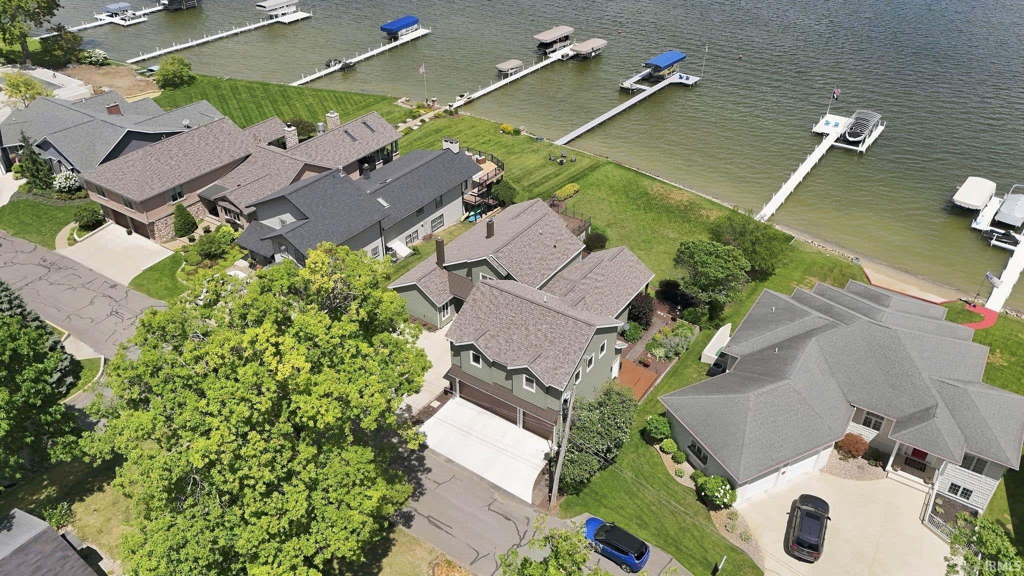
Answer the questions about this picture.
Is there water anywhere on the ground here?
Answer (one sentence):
Yes, there is water in the image.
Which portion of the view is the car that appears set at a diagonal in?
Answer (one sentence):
The car that appears set at a diagonal sits in the bottom section of the image.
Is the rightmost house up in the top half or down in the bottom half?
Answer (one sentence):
The rightmost house is in the bottom half of the image.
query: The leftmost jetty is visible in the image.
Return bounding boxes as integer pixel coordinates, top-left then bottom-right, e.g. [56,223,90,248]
[79,7,162,28]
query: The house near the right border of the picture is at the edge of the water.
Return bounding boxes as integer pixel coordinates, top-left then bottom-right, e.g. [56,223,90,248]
[657,279,1024,505]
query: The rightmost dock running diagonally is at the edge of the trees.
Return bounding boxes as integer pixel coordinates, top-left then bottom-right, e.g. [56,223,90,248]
[755,110,887,222]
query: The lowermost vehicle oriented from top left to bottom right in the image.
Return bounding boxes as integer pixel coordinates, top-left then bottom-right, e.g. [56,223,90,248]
[582,521,656,576]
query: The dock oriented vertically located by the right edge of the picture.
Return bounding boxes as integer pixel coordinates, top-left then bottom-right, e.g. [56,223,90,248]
[969,192,1024,314]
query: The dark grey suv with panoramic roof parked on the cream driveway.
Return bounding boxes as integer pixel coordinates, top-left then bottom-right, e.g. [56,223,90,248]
[784,494,827,561]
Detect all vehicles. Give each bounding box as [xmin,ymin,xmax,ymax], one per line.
[784,494,827,561]
[582,521,656,576]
